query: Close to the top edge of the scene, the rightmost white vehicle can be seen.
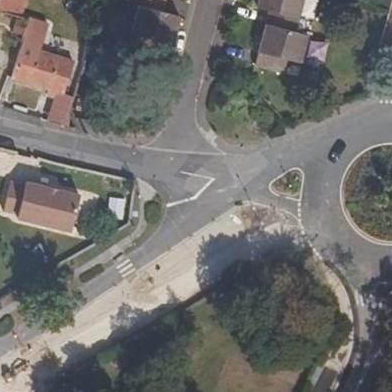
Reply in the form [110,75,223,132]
[236,6,257,22]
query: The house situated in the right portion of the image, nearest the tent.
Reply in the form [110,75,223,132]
[258,24,311,63]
